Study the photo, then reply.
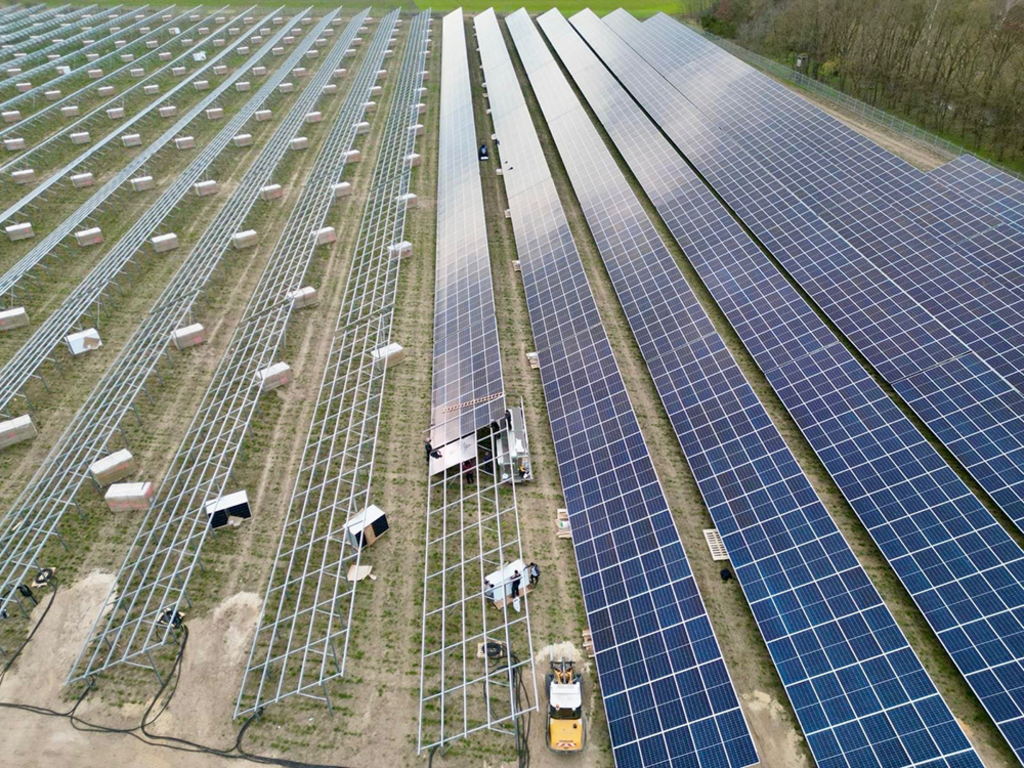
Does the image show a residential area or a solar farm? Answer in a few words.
solar farm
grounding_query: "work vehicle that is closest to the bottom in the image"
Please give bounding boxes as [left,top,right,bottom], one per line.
[544,646,587,762]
